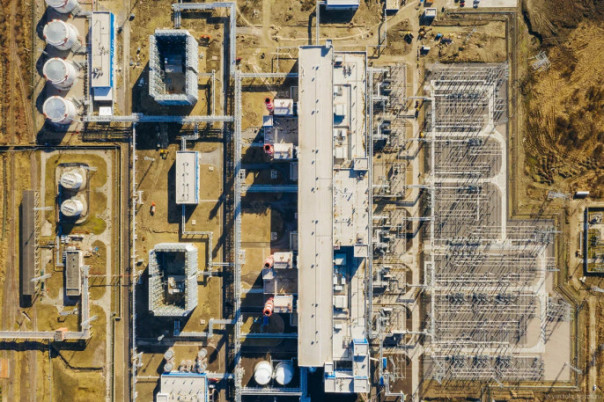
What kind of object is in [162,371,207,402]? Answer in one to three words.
house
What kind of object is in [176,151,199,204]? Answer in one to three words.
building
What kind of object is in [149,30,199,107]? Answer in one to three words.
cooling tower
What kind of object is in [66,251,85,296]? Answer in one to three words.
building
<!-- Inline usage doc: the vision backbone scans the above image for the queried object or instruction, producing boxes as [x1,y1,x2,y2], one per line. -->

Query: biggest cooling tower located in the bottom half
[149,243,199,317]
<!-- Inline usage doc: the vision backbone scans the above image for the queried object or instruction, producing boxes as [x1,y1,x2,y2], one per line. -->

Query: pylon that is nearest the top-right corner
[527,53,551,73]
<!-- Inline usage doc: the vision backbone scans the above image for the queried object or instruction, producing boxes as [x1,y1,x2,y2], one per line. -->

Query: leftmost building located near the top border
[92,12,116,91]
